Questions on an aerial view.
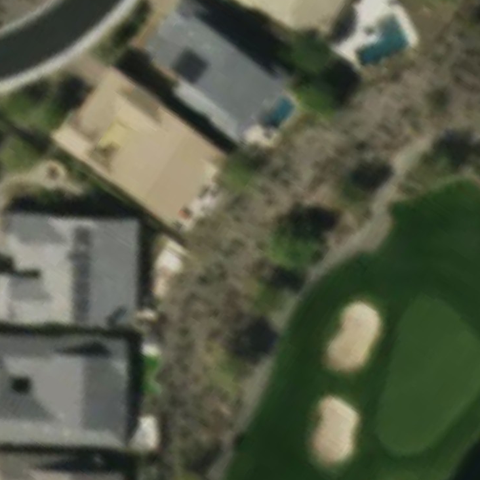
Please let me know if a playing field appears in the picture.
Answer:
No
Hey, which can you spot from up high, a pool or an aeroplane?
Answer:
pool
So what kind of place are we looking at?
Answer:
residential area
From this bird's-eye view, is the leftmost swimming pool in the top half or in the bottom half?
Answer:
top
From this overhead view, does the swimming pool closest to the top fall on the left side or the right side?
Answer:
right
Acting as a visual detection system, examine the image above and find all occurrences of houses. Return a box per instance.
[244,0,343,35]
[146,0,288,141]
[52,68,227,228]
[0,334,128,446]
[0,213,138,328]
[0,451,124,480]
